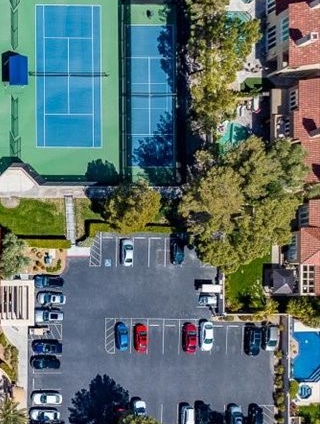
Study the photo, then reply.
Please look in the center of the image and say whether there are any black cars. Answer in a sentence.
Yes, a black car appears in the center of the image.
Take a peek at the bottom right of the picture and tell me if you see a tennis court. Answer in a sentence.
No, no tennis court can be made out at the bottom right of the picture.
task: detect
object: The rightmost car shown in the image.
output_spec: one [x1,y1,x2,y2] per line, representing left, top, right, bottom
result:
[261,324,278,352]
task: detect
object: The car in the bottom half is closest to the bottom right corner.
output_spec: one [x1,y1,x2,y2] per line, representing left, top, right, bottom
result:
[247,405,264,424]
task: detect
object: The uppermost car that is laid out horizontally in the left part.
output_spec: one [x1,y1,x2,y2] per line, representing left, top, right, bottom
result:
[33,275,63,289]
